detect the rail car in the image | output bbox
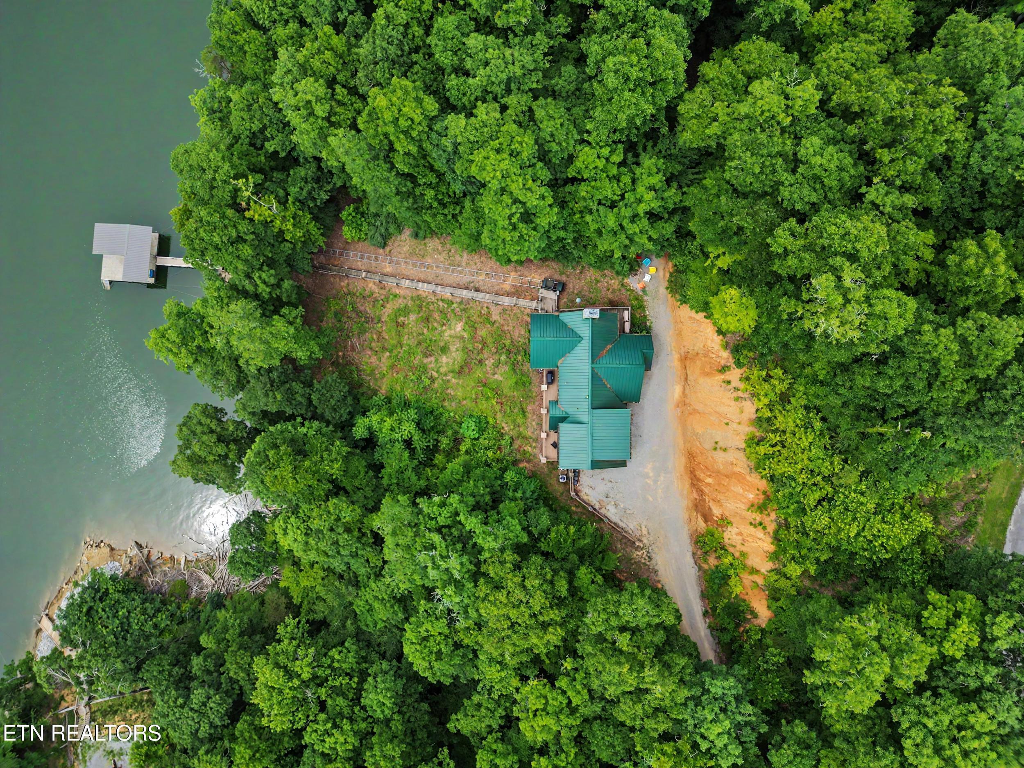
[541,277,562,292]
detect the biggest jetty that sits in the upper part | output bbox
[92,223,161,285]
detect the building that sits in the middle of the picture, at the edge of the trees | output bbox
[532,309,655,470]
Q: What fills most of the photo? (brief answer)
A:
trees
